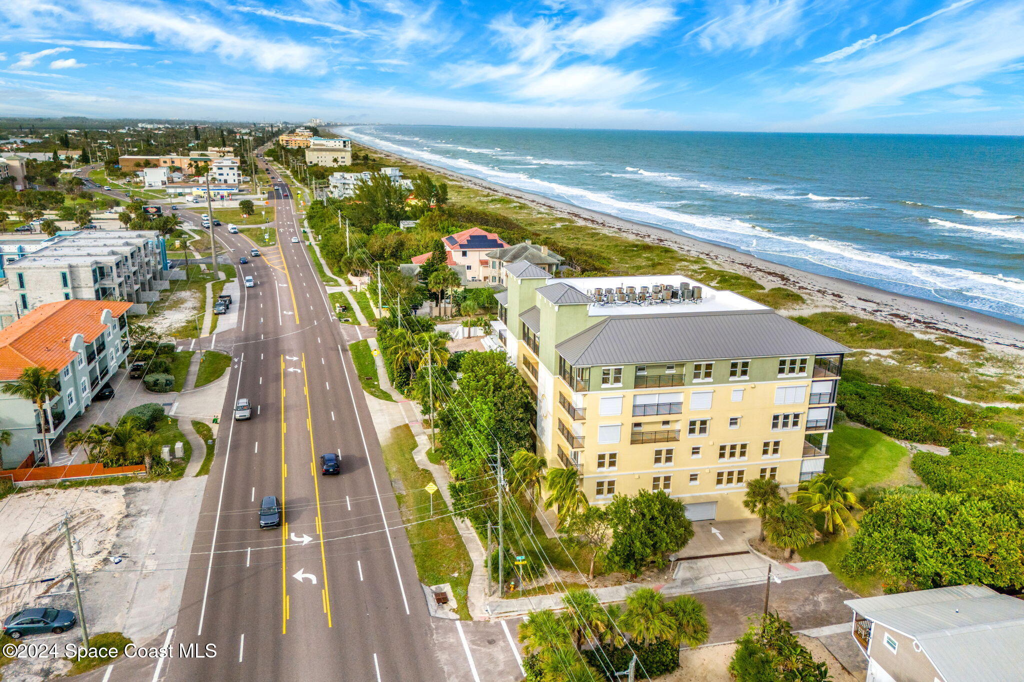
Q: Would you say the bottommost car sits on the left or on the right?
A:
left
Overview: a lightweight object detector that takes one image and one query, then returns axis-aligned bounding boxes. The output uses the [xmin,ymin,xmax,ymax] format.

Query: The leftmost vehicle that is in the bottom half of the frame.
[1,607,74,641]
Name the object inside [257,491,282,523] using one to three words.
car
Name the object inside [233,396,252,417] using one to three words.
car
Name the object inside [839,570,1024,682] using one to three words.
house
